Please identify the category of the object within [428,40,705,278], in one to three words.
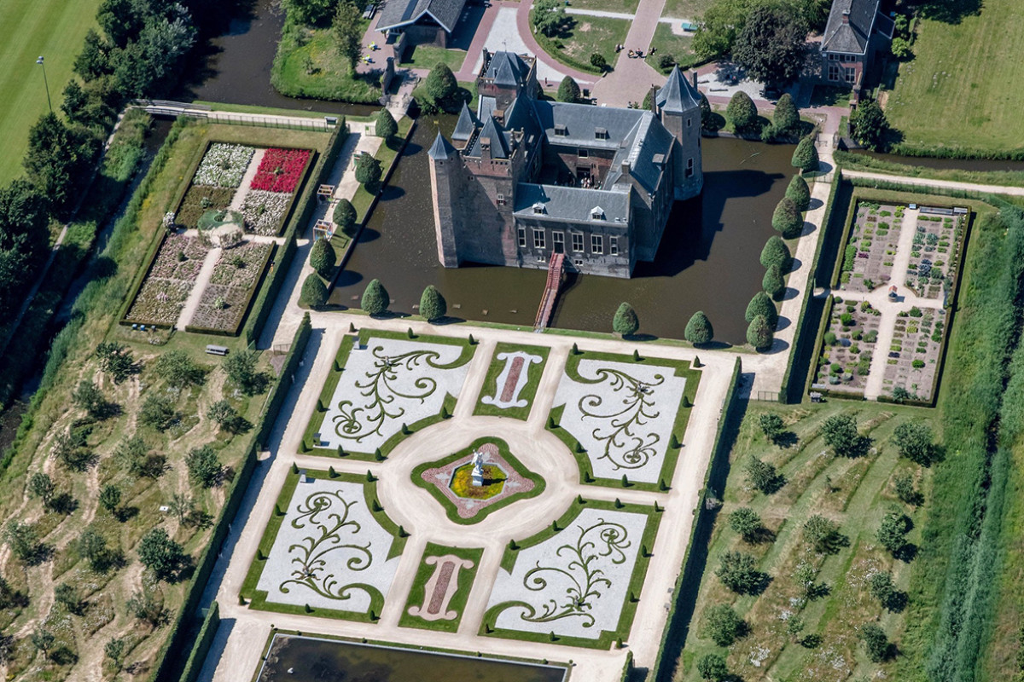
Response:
building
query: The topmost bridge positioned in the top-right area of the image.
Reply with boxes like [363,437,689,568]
[818,128,846,157]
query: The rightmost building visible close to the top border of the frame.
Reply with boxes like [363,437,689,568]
[819,0,900,88]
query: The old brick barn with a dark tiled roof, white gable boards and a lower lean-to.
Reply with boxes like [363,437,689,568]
[381,0,466,49]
